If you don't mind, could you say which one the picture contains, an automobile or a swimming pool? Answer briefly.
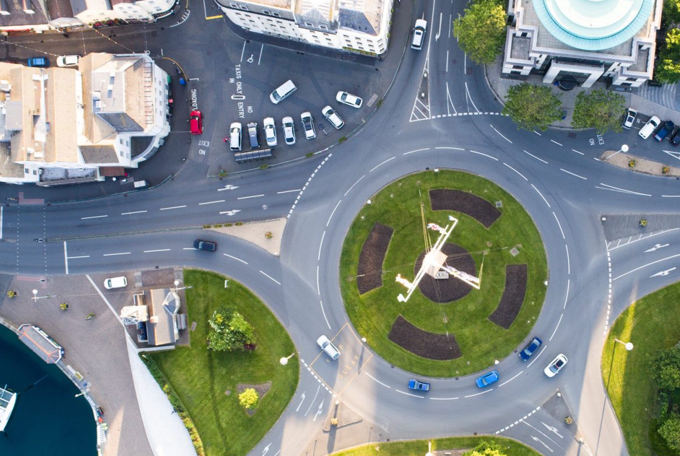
automobile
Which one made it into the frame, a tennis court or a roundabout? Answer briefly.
roundabout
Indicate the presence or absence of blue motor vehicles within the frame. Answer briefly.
Yes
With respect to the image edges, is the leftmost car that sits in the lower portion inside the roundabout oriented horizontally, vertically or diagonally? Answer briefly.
diagonally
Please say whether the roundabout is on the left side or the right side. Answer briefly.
right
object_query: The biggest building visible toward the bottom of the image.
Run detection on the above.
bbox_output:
[115,288,186,346]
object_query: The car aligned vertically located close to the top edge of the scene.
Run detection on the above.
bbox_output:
[413,20,427,49]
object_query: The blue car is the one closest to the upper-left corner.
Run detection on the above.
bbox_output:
[26,55,50,68]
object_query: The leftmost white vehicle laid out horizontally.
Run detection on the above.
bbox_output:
[55,54,81,67]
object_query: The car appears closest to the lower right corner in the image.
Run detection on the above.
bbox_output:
[545,354,566,378]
